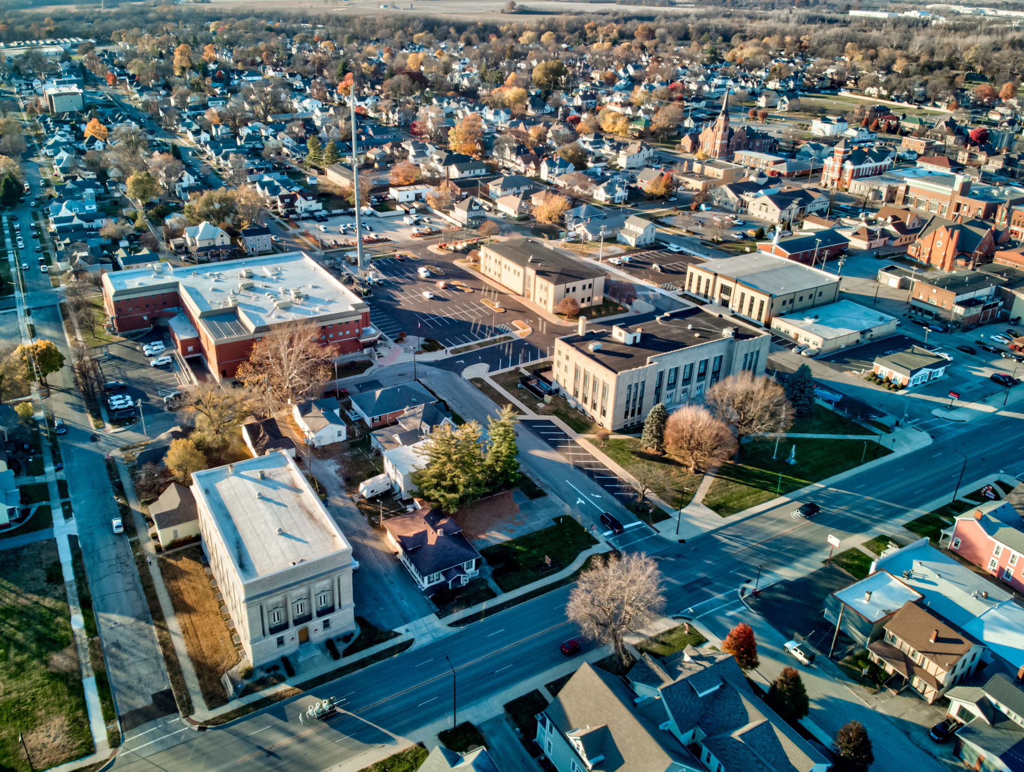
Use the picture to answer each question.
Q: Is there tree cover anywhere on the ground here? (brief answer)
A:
Yes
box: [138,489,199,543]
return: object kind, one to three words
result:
house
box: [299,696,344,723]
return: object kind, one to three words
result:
vehicle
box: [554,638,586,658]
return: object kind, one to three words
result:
car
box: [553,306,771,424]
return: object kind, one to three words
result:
building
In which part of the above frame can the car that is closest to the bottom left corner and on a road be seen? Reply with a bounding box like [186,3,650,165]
[111,517,126,534]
